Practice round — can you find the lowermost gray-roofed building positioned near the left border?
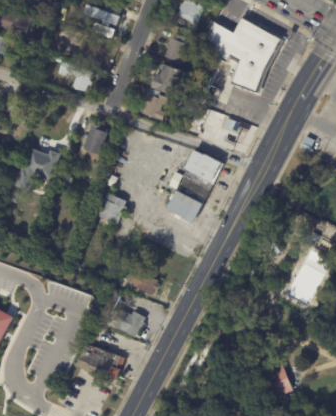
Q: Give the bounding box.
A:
[16,150,58,190]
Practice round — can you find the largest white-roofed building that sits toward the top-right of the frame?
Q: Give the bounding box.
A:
[208,20,283,91]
